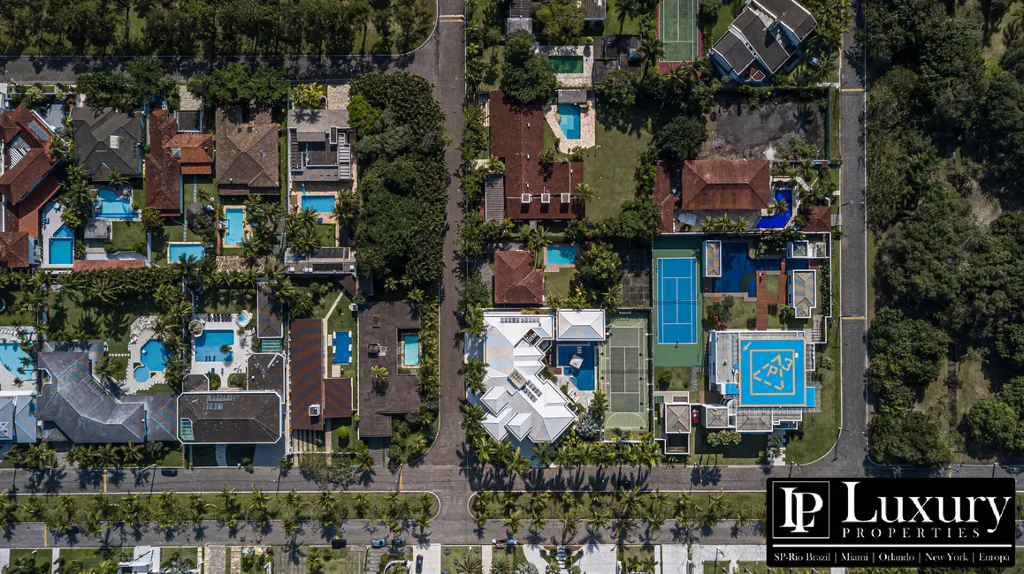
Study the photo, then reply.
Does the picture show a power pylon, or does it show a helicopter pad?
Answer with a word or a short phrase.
helicopter pad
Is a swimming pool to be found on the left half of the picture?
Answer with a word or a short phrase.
Yes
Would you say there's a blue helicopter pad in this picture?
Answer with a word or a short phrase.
Yes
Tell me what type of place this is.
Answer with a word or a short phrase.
residential area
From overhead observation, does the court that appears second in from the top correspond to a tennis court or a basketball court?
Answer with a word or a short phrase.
tennis court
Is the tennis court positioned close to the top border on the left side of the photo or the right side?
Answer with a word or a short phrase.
right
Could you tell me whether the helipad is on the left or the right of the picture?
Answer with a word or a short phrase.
right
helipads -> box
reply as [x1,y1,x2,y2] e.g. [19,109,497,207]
[738,337,806,407]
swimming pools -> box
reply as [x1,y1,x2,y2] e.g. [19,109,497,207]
[544,243,580,267]
[194,329,235,364]
[557,344,596,392]
[133,366,151,383]
[0,342,34,382]
[93,213,139,219]
[548,54,585,74]
[756,188,793,229]
[786,259,809,270]
[233,309,251,327]
[224,207,245,247]
[713,241,783,297]
[97,186,132,214]
[167,241,206,264]
[47,223,76,266]
[402,332,421,369]
[138,338,172,373]
[555,101,582,141]
[332,331,352,365]
[299,193,337,214]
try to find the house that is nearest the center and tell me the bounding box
[495,251,544,304]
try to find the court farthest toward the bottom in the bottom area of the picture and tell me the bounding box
[605,312,650,431]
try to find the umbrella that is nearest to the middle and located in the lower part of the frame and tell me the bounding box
[569,353,585,369]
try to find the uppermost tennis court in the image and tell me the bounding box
[657,0,703,76]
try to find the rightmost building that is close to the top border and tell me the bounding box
[708,0,815,84]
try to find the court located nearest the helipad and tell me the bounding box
[655,234,704,365]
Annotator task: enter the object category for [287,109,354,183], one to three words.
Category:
house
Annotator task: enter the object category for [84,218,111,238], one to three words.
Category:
shed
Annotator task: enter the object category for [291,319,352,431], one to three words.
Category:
house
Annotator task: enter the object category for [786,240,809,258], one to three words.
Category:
building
